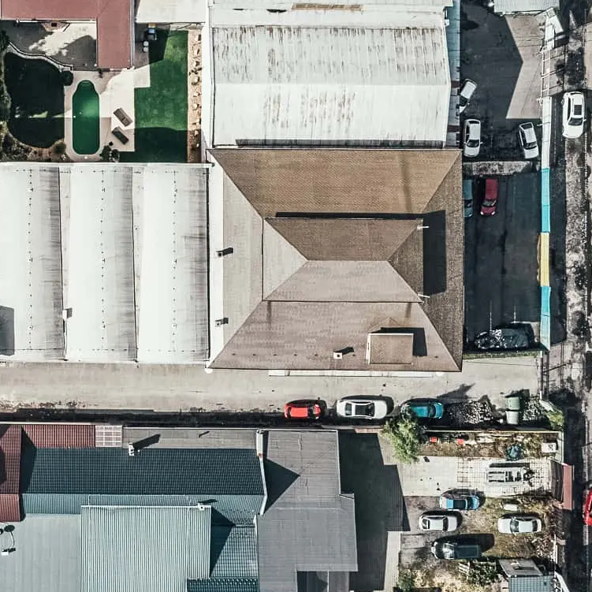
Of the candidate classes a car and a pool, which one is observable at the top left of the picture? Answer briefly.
pool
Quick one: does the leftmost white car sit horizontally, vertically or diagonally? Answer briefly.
horizontally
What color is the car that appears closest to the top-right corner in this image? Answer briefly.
white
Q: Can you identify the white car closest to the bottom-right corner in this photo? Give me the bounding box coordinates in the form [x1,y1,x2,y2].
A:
[499,515,545,538]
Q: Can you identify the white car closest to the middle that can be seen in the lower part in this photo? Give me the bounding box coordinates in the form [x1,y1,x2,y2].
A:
[339,398,390,421]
